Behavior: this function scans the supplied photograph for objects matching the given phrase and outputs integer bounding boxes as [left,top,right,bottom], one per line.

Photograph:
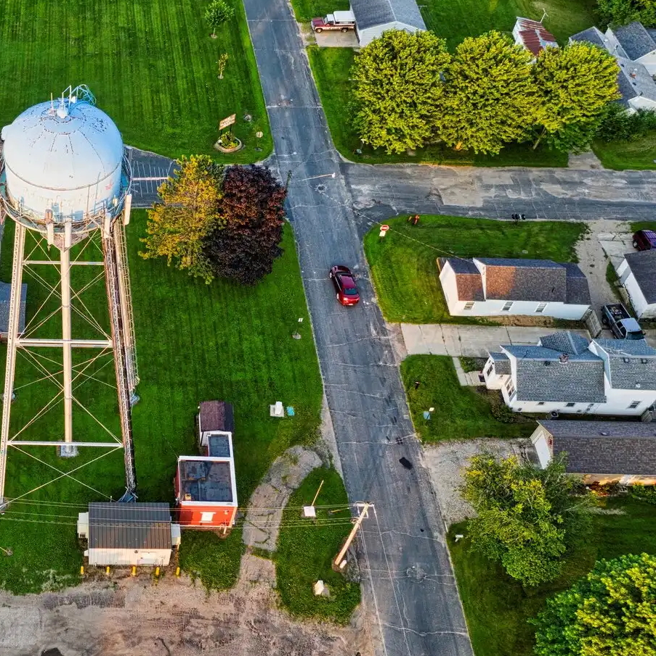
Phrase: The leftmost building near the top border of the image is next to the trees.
[347,0,427,47]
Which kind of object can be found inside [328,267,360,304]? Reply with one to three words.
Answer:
car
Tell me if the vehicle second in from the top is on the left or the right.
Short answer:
right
